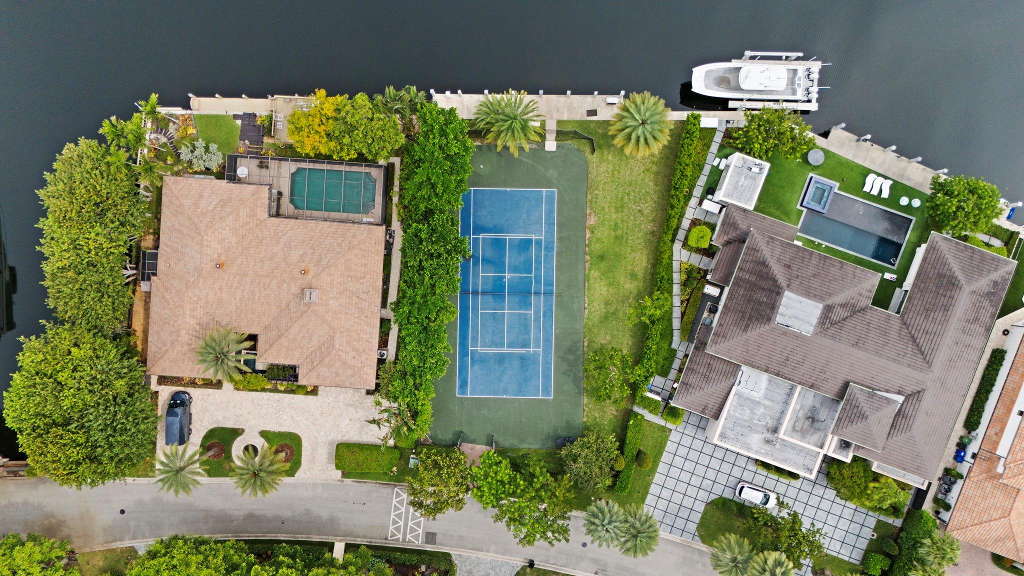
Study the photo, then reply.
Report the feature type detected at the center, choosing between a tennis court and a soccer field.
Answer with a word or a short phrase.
tennis court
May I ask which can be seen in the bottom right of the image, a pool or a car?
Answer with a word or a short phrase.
car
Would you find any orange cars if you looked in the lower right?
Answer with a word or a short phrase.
No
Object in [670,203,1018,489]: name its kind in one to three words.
house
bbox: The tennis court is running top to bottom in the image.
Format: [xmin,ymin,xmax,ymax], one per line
[430,144,588,448]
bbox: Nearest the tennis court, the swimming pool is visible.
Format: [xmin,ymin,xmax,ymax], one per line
[286,165,379,217]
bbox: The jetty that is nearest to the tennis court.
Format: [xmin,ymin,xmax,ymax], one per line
[430,89,624,120]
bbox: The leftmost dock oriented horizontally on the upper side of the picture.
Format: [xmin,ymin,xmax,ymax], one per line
[189,93,274,112]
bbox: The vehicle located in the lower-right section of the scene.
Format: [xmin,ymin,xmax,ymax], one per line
[735,483,781,511]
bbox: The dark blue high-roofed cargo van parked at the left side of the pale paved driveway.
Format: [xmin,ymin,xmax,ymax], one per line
[162,392,191,449]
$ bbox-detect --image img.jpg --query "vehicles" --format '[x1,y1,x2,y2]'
[162,392,191,449]
[735,483,781,511]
